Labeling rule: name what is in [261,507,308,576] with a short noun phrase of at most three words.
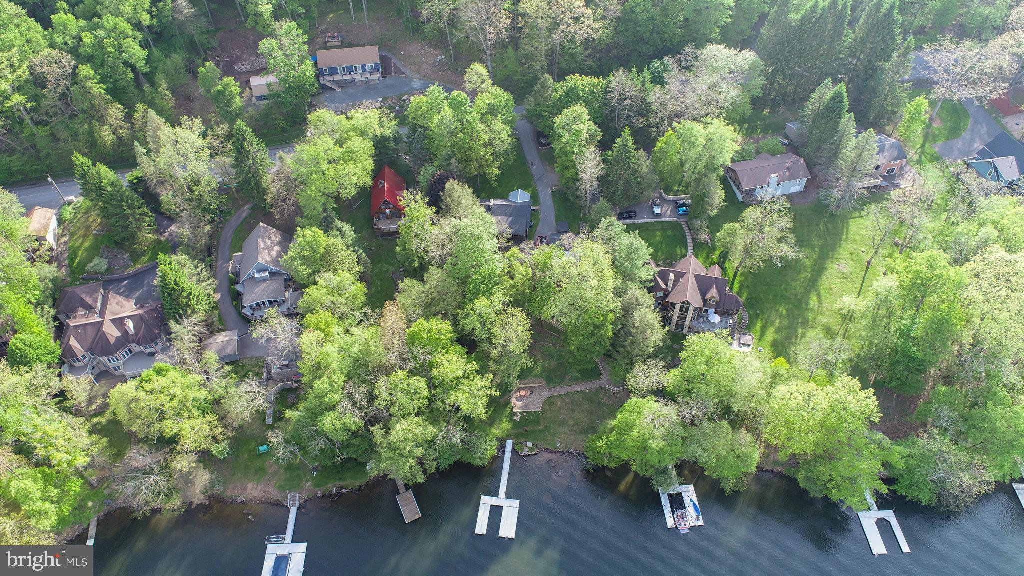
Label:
pier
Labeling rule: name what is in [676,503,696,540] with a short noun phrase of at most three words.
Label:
boat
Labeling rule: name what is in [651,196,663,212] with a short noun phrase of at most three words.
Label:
vehicle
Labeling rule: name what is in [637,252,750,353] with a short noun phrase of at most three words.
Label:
house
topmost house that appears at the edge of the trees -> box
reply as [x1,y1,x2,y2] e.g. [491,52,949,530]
[317,46,383,91]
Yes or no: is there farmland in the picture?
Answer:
No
